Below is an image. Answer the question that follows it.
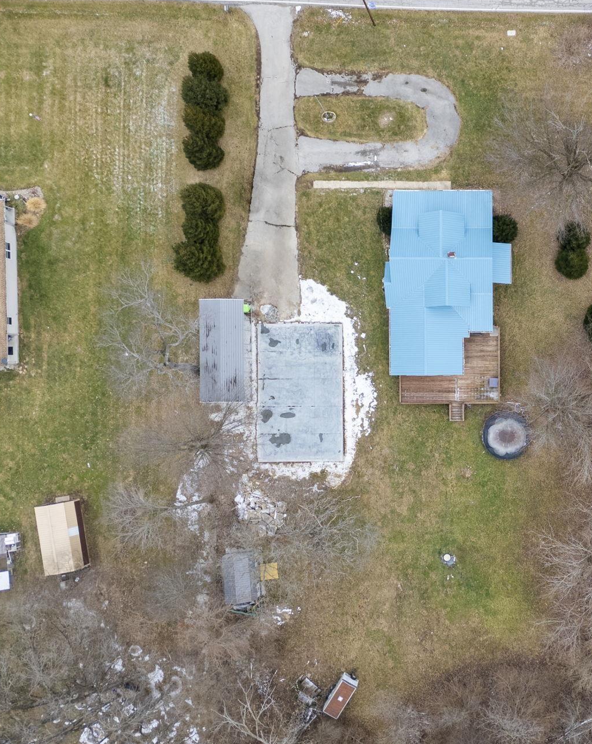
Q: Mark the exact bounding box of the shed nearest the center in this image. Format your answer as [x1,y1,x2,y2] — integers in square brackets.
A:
[199,298,252,403]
